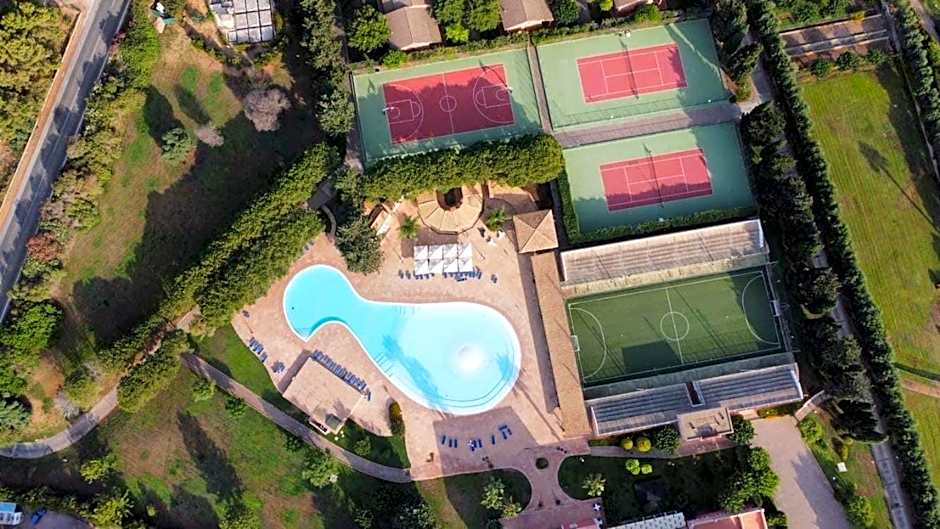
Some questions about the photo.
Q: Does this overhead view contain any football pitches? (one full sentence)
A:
Yes, there is a football pitch in the image.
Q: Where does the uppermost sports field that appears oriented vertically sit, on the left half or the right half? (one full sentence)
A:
The uppermost sports field that appears oriented vertically appears in the right half of the scene.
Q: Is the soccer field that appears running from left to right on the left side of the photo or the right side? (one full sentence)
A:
The soccer field that appears running from left to right is on the right side of the image.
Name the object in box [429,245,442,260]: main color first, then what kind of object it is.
white umbrella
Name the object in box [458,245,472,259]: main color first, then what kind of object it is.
white umbrella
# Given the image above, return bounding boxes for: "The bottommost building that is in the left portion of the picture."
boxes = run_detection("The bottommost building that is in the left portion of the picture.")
[284,359,364,433]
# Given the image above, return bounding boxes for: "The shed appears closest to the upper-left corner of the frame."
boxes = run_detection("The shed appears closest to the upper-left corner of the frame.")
[152,2,176,31]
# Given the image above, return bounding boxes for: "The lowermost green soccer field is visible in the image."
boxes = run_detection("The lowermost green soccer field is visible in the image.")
[566,264,791,386]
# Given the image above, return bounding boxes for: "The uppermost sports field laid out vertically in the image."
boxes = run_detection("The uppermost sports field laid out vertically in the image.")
[798,64,940,382]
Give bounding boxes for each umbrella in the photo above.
[458,245,472,259]
[414,260,428,274]
[442,245,457,260]
[429,260,442,274]
[414,246,428,260]
[429,245,442,260]
[458,259,472,274]
[442,259,457,274]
